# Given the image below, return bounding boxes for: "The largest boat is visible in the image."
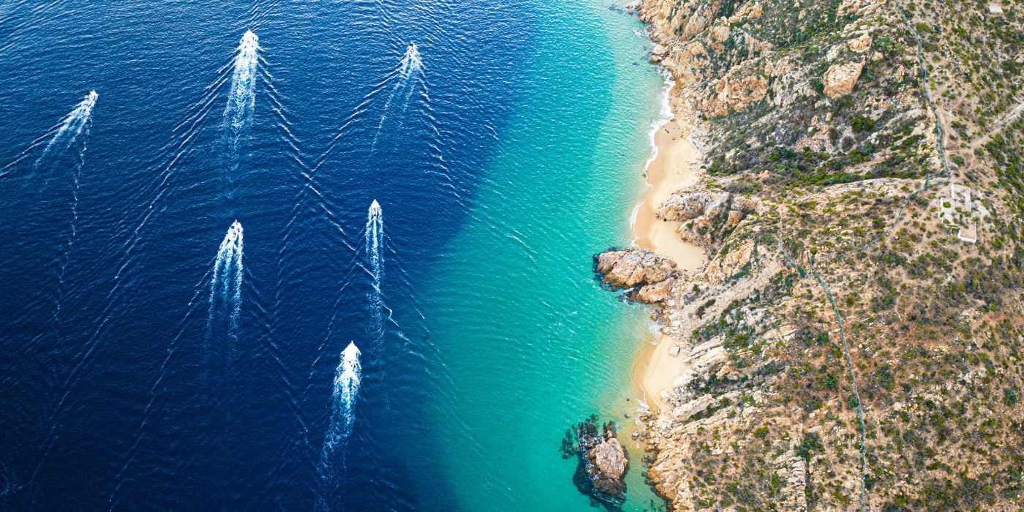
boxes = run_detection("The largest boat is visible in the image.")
[345,339,357,372]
